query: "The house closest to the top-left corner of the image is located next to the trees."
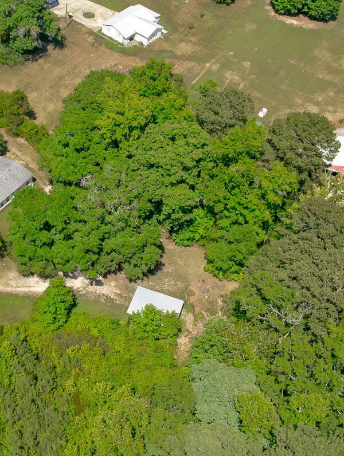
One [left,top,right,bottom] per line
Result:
[92,6,165,52]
